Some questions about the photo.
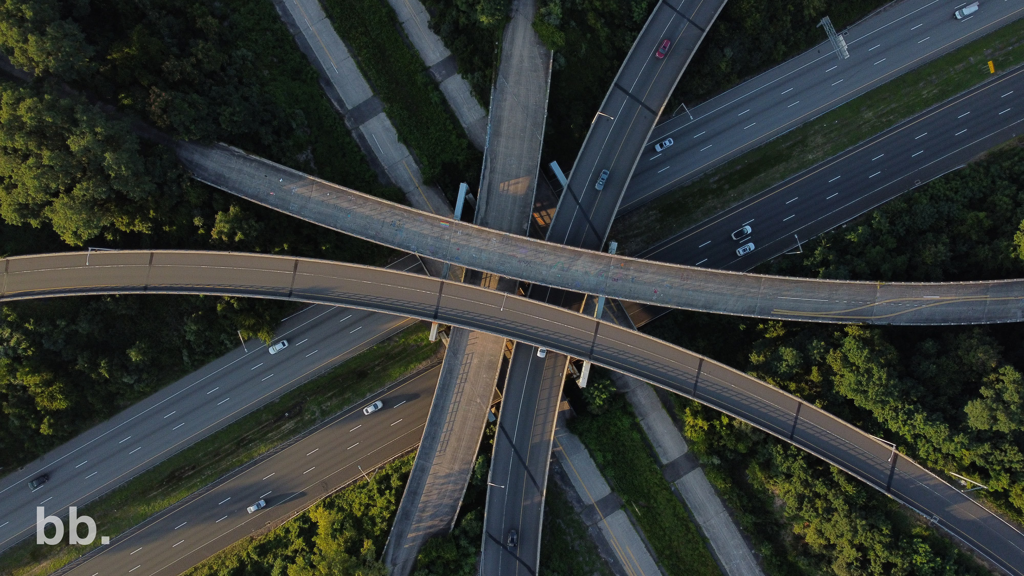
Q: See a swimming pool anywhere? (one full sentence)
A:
No, the frame has no swimming pool in it.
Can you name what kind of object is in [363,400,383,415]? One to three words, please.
car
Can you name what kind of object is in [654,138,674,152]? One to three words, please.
car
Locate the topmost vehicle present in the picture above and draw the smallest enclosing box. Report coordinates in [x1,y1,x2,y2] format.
[953,2,981,20]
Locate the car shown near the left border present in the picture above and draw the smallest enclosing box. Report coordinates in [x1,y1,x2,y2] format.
[29,474,49,489]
